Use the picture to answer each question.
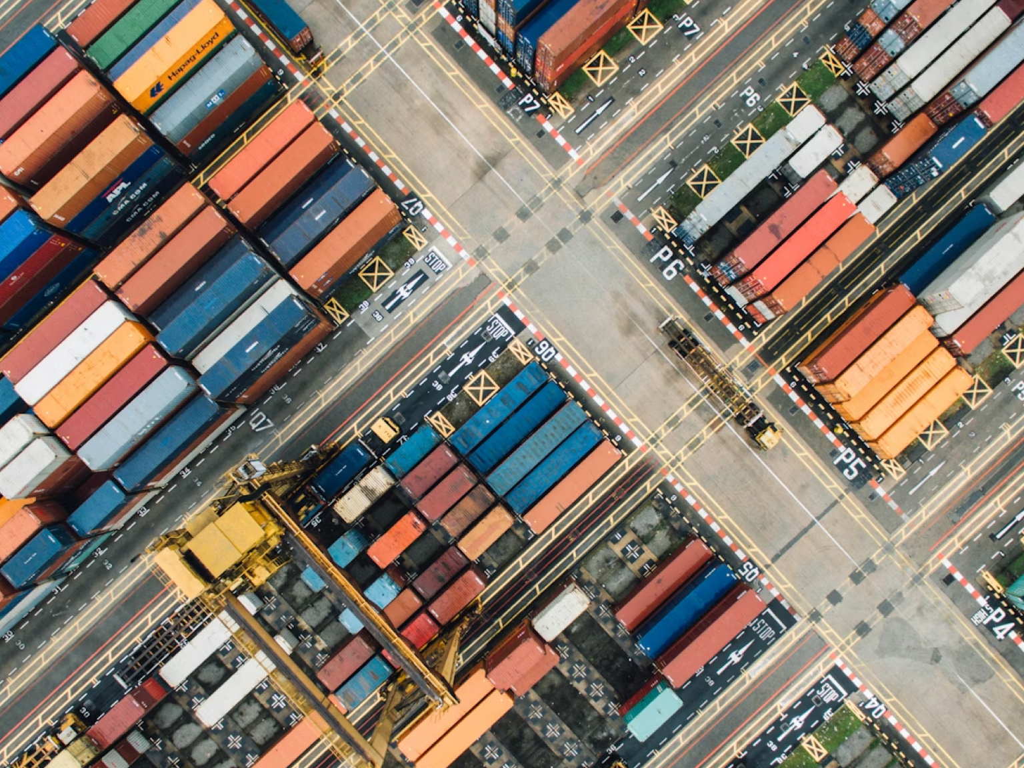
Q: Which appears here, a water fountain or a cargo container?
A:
cargo container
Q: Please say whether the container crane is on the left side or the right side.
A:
left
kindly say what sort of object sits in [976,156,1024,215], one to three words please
shipping container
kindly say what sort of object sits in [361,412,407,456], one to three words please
work vehicle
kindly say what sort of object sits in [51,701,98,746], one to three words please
work vehicle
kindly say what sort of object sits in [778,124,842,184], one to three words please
shipping container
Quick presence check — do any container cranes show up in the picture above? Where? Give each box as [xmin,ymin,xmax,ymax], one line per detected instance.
[142,438,484,768]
